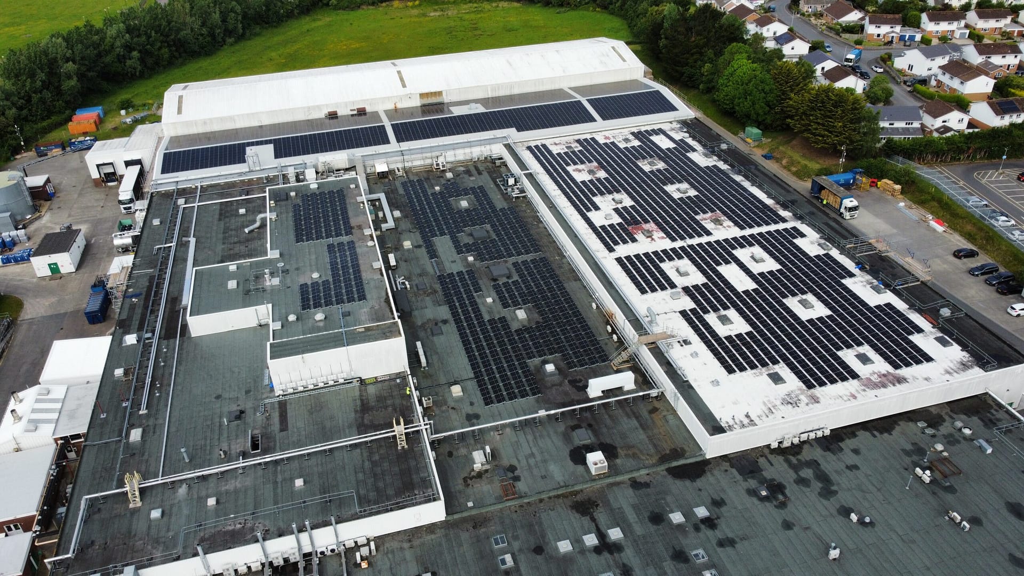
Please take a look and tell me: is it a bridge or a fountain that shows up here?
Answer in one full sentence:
Visible in the photo is a bridge.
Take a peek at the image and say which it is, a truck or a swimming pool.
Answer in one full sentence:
Visible in the photo is a truck.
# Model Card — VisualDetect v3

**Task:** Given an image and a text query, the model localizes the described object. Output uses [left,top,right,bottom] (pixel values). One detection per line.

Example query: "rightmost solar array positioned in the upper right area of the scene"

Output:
[994,98,1020,111]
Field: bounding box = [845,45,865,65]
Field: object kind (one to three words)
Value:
vehicle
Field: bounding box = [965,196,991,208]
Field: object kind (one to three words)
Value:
vehicle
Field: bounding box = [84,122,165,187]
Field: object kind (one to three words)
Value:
building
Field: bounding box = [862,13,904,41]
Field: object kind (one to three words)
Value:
house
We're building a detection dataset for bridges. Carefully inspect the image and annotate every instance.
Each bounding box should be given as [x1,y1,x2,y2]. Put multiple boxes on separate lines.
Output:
[611,320,678,367]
